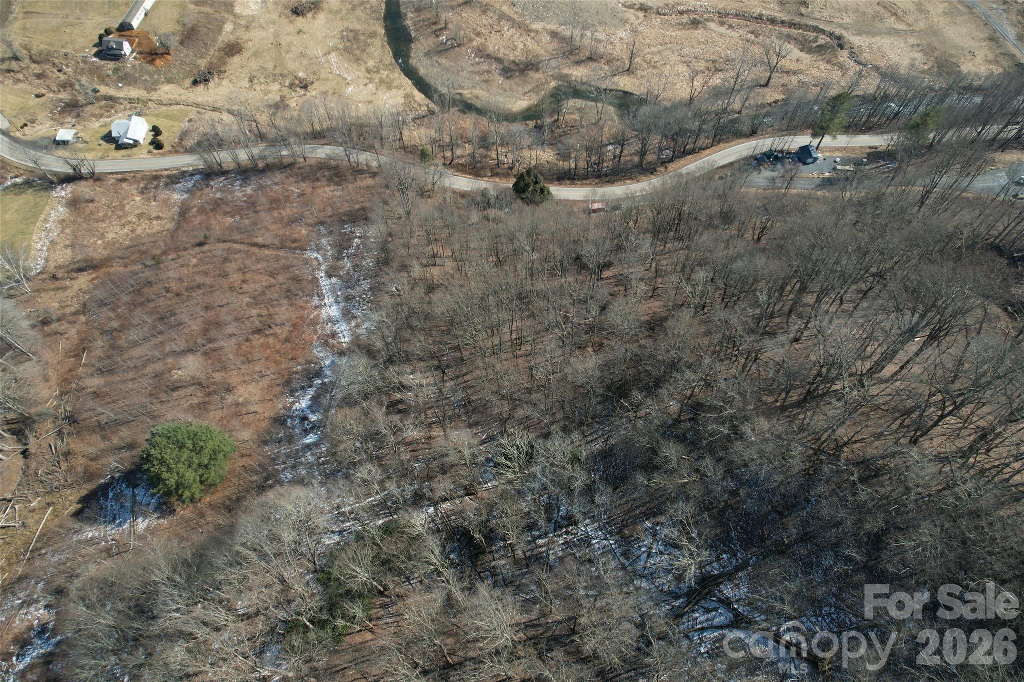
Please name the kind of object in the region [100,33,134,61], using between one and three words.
house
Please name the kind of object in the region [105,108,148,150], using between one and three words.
house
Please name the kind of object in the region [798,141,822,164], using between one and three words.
shed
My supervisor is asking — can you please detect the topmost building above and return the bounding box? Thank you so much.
[122,0,156,30]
